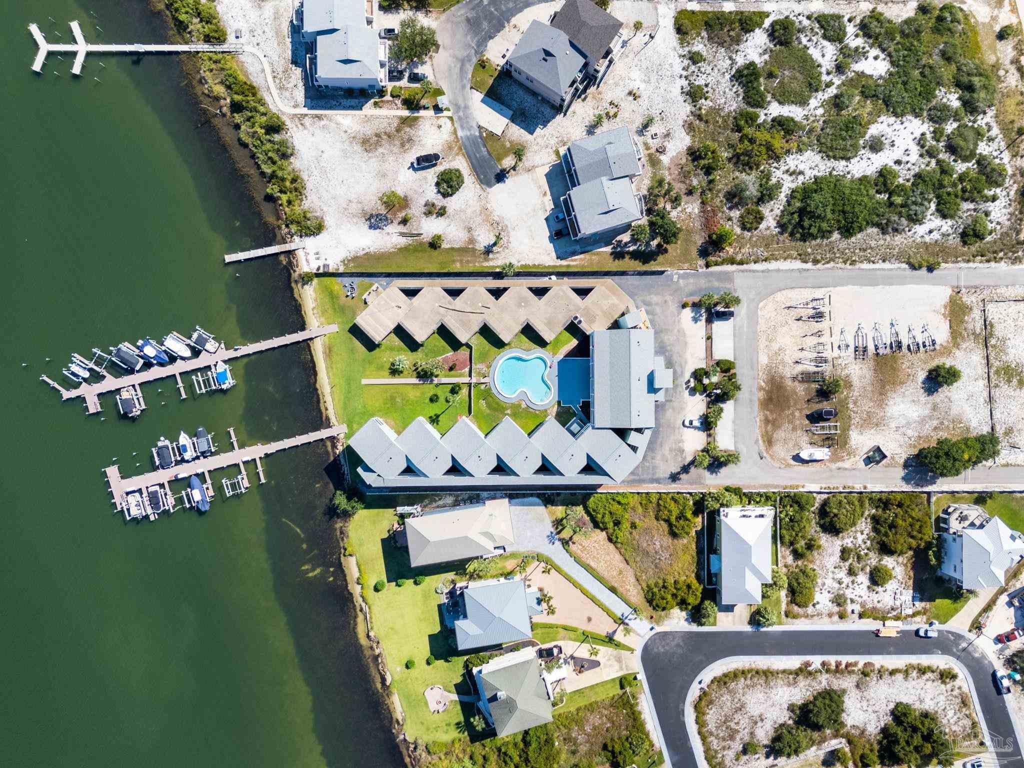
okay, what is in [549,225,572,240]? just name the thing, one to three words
vehicle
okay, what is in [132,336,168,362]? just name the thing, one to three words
boat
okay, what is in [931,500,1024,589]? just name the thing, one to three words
house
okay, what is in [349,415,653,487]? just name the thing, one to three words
building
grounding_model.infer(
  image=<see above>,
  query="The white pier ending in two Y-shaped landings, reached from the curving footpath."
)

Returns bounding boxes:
[26,19,244,77]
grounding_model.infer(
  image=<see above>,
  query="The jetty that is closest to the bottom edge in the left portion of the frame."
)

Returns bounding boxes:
[100,425,347,520]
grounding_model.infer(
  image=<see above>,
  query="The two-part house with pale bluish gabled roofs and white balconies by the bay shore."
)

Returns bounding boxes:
[288,0,391,91]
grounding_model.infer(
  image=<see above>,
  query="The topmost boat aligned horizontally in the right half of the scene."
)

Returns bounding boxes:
[807,408,843,420]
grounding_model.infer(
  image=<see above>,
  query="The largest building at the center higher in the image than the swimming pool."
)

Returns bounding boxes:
[354,278,636,344]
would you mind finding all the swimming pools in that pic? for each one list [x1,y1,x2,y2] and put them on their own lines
[491,349,558,409]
